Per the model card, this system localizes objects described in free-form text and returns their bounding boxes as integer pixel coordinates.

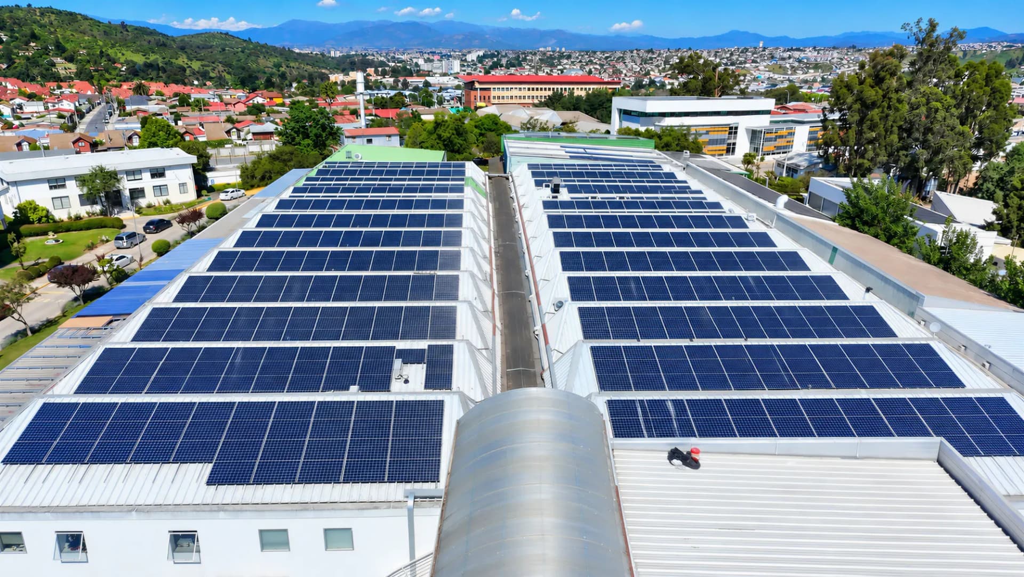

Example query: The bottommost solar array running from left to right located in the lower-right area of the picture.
[607,397,1024,454]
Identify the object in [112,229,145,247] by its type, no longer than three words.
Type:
car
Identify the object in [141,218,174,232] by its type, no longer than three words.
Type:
car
